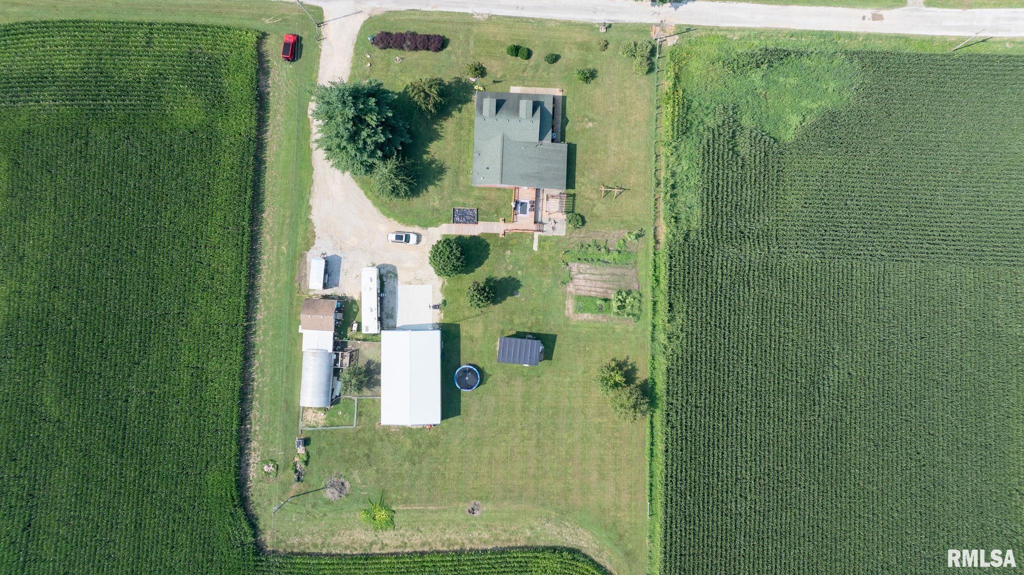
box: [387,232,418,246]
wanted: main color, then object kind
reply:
white car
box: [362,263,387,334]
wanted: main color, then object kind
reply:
white vehicle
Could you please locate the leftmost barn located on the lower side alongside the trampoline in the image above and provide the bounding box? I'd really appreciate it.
[380,329,445,427]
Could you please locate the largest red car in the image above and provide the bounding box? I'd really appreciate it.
[282,34,297,60]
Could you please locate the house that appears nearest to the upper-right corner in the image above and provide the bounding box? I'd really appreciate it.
[471,91,568,192]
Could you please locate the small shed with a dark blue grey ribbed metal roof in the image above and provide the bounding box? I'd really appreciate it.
[498,337,541,366]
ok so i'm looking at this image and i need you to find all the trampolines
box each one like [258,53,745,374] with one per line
[455,364,481,391]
